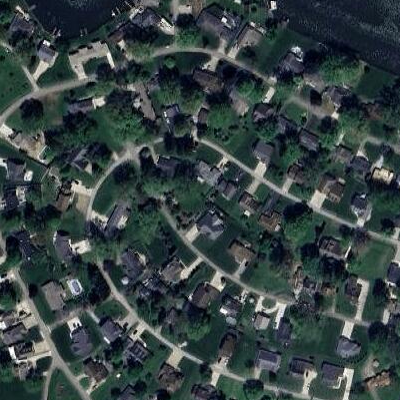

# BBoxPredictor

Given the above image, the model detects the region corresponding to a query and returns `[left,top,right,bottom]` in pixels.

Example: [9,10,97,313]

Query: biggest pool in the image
[66,277,85,299]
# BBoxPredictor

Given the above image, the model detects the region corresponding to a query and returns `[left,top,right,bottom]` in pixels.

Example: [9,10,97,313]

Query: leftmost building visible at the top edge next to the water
[9,14,36,37]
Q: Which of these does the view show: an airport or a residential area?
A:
residential area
